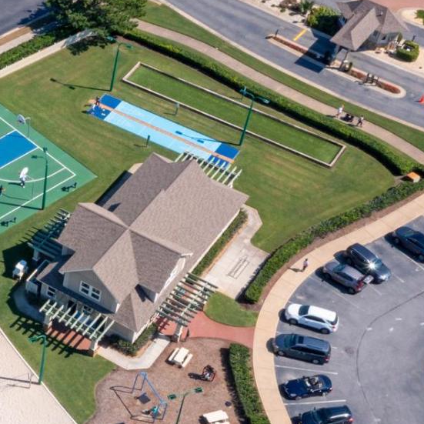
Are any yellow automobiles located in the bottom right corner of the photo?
No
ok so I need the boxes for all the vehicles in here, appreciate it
[284,376,338,401]
[344,243,393,281]
[298,404,358,424]
[323,261,380,295]
[272,332,331,364]
[393,227,424,261]
[286,304,341,334]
